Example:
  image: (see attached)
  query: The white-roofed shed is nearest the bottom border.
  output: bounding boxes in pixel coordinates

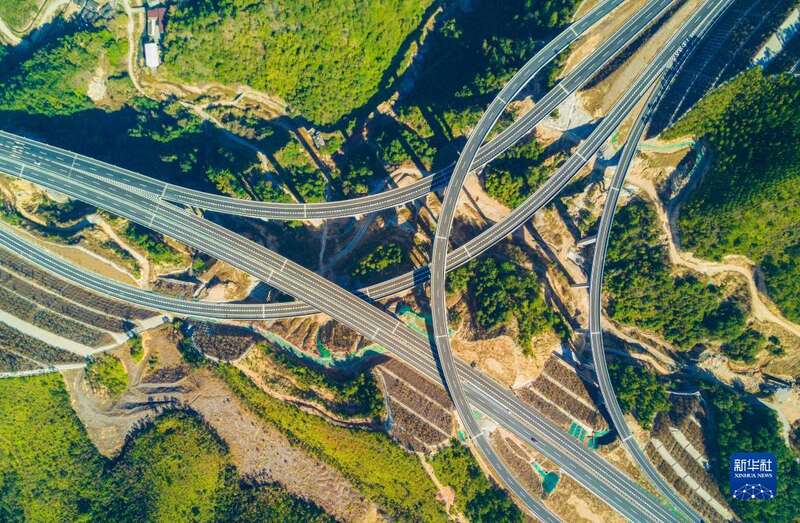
[145,42,160,69]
